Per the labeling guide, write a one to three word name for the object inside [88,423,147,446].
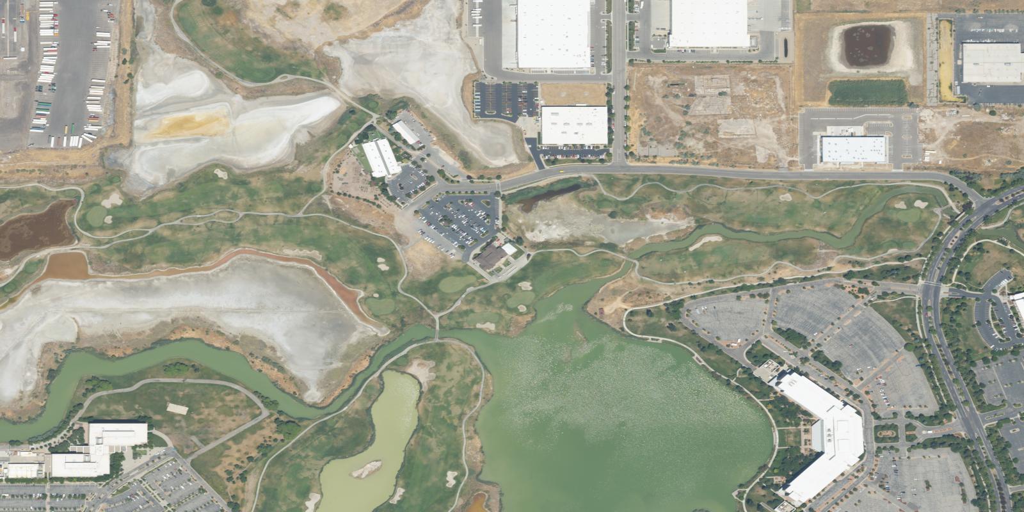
building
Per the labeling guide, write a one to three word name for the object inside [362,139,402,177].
building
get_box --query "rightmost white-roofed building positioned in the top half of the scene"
[963,43,1024,82]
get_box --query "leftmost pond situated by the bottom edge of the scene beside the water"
[319,369,420,512]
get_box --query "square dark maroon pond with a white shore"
[844,25,890,66]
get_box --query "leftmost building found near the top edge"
[518,0,590,68]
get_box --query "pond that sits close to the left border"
[0,200,77,261]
